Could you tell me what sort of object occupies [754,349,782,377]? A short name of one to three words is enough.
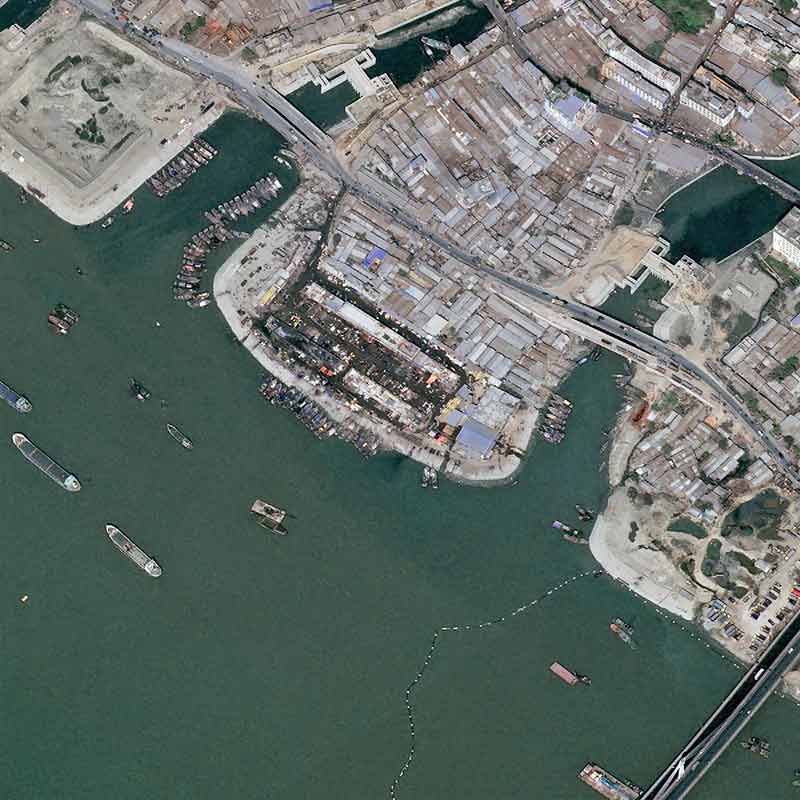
shed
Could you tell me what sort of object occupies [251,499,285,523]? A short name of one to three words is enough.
ship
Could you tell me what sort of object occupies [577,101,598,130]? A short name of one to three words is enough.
house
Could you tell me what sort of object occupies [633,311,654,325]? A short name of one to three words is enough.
boat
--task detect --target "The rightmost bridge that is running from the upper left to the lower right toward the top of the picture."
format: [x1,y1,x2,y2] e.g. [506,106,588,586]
[720,148,800,205]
